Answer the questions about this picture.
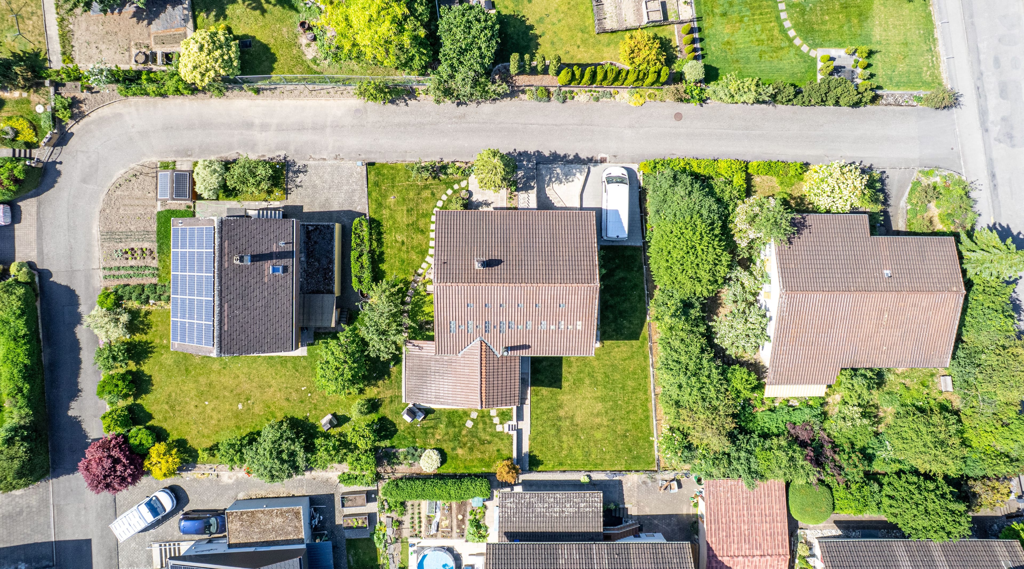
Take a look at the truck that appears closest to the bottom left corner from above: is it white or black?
white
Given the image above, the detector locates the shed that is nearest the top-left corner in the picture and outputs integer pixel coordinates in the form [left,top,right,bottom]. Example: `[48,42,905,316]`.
[157,169,202,201]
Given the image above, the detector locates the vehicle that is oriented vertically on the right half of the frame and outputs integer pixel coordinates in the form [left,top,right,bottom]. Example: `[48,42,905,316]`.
[600,169,629,241]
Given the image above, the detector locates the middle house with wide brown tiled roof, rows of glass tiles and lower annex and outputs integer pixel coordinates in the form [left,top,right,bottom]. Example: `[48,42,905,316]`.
[402,209,600,410]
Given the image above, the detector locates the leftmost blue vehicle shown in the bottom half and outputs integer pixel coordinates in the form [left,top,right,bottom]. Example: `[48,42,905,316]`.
[177,512,227,538]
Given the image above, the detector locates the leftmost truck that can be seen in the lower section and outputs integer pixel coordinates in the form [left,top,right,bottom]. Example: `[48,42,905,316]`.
[108,489,180,545]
